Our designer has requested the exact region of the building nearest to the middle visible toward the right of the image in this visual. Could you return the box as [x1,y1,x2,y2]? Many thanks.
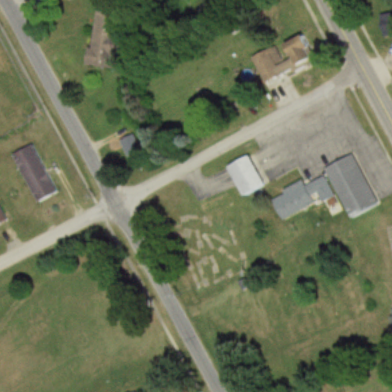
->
[226,156,264,198]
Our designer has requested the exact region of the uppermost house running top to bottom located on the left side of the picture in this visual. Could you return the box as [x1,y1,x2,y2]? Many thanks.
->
[85,12,112,70]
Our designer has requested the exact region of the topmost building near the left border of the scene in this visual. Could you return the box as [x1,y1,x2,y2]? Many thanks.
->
[13,144,58,202]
